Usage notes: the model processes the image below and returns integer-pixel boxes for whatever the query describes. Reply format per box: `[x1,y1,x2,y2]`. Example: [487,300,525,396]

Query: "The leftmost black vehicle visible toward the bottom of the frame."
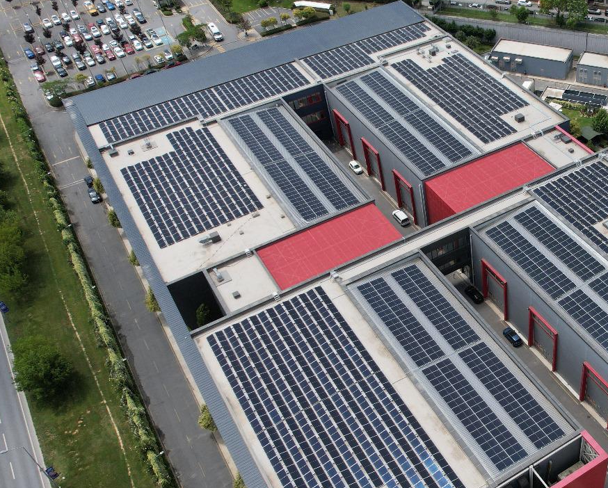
[462,284,485,305]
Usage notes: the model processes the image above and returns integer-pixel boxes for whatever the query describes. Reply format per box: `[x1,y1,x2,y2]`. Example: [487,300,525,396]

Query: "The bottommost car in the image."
[499,325,525,349]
